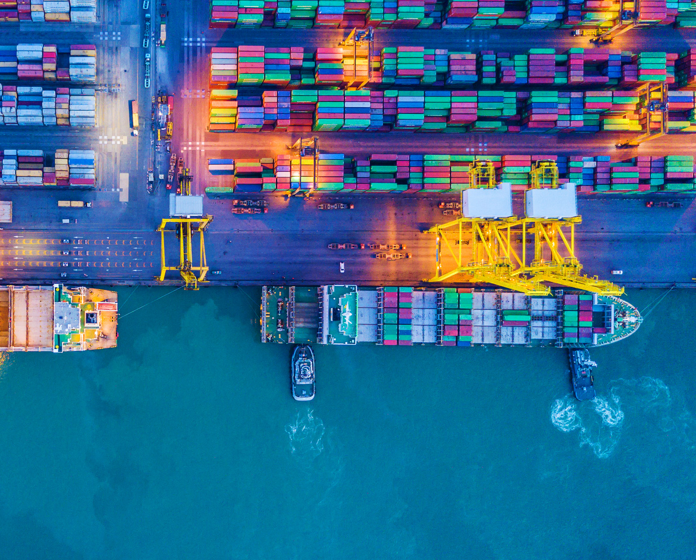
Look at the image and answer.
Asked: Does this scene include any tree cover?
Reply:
No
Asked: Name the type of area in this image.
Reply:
port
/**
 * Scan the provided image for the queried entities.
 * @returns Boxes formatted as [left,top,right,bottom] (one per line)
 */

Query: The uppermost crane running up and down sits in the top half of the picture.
[339,24,371,90]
